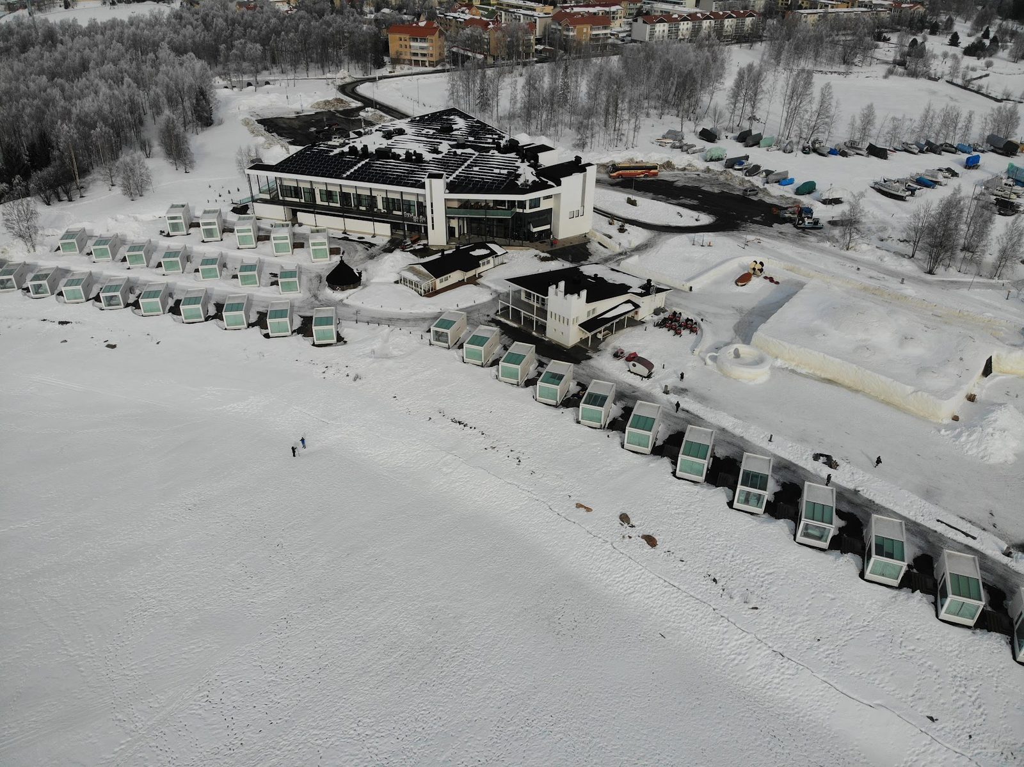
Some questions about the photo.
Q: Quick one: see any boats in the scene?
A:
Yes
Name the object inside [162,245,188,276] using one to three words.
building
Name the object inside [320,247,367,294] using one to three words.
shed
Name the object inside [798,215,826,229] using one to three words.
boat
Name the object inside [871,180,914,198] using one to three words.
boat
